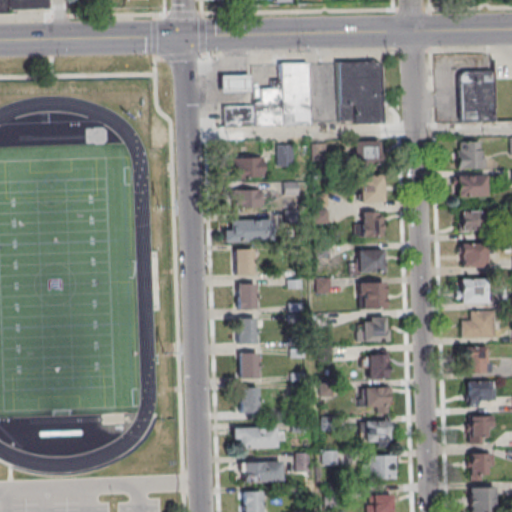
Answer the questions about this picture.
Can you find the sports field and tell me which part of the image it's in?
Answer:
left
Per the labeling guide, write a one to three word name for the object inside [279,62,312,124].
building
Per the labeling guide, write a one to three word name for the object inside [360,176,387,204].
house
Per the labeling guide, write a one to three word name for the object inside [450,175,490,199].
house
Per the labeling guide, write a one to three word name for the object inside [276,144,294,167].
building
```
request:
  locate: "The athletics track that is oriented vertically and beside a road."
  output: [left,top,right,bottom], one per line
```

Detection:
[0,96,160,477]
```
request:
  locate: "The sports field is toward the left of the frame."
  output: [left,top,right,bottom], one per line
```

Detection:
[0,144,140,418]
